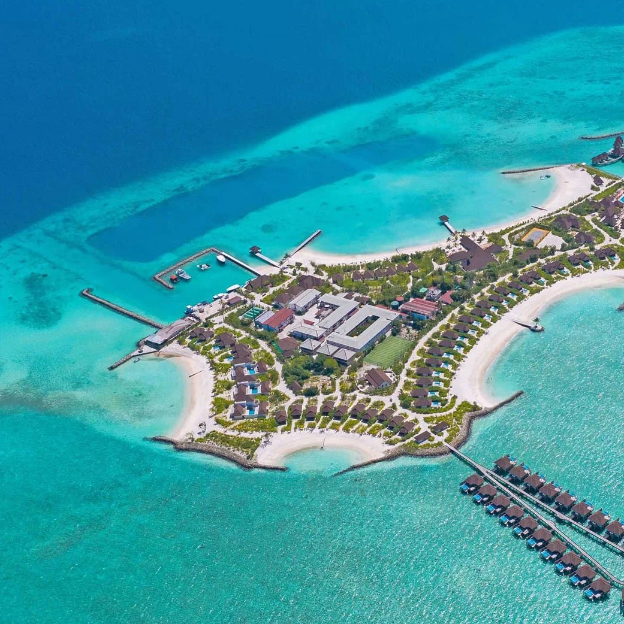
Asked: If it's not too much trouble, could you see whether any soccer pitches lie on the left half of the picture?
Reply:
No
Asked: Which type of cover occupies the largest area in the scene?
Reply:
water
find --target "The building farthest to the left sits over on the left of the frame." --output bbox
[145,318,192,349]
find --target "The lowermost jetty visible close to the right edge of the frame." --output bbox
[441,441,624,585]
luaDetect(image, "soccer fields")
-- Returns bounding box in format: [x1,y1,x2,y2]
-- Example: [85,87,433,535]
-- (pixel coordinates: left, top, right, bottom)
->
[366,337,412,367]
